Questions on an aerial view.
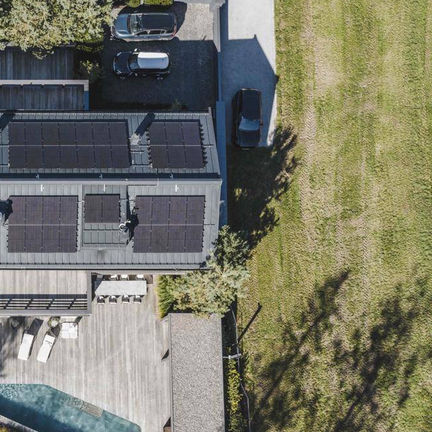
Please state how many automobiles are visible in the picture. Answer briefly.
3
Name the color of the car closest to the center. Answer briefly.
black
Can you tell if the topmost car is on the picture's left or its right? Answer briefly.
left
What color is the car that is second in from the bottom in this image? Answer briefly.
black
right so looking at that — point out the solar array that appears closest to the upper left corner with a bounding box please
[7,122,131,169]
